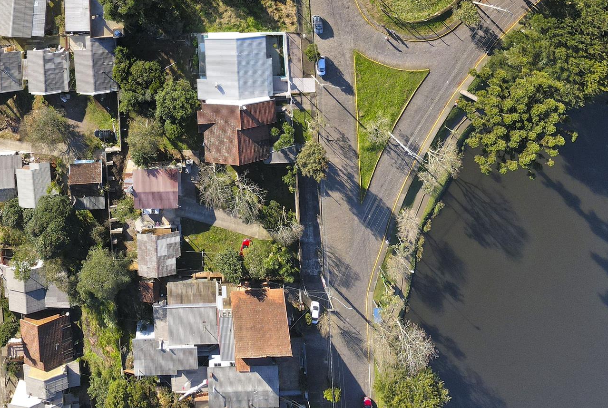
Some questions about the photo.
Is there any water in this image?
Yes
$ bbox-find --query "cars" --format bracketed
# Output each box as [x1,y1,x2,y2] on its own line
[363,398,374,408]
[309,302,321,327]
[94,131,114,143]
[313,14,325,36]
[316,55,327,76]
